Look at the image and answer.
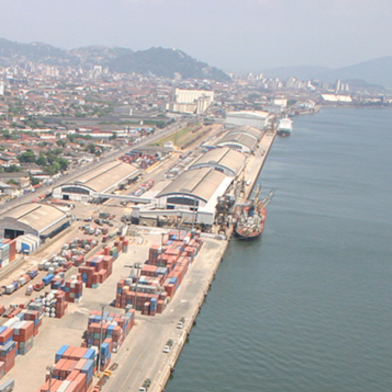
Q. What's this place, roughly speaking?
port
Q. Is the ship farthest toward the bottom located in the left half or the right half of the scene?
right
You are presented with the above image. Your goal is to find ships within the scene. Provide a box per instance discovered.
[235,182,285,243]
[278,107,293,136]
